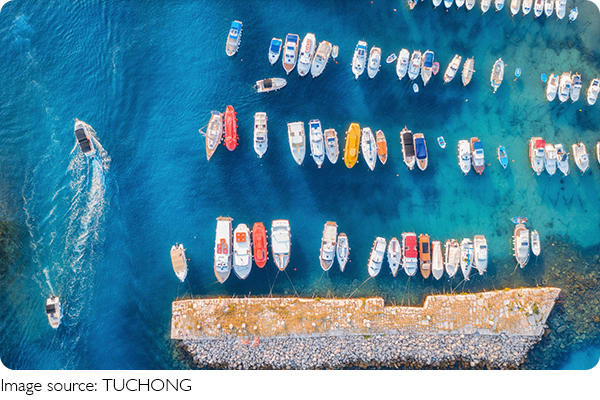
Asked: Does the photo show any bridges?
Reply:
No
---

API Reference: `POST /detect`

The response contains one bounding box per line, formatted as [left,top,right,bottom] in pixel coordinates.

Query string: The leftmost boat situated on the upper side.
[73,117,96,159]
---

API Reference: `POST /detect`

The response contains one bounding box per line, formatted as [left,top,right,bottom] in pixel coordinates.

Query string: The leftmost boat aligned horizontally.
[254,78,287,93]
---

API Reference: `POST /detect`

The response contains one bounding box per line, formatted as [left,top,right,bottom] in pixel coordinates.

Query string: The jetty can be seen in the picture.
[171,286,560,339]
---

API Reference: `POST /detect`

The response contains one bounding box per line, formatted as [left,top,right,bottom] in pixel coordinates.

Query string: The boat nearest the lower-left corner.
[46,295,62,329]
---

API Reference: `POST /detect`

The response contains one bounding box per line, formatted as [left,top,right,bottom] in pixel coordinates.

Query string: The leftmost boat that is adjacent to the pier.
[171,245,188,283]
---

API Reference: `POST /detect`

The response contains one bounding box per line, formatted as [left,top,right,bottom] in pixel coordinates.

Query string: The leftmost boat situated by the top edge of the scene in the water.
[226,19,243,56]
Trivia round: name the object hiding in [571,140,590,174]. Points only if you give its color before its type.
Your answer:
white boat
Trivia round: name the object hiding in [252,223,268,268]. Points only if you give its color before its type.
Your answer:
red boat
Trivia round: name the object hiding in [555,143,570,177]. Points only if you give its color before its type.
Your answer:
white boat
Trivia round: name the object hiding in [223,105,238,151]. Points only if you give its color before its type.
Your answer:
red boat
